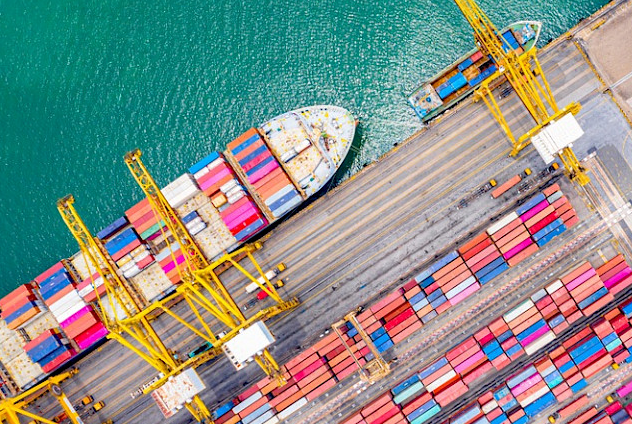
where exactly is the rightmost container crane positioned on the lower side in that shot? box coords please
[329,306,394,380]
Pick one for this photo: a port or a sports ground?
port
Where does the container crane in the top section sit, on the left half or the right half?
right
